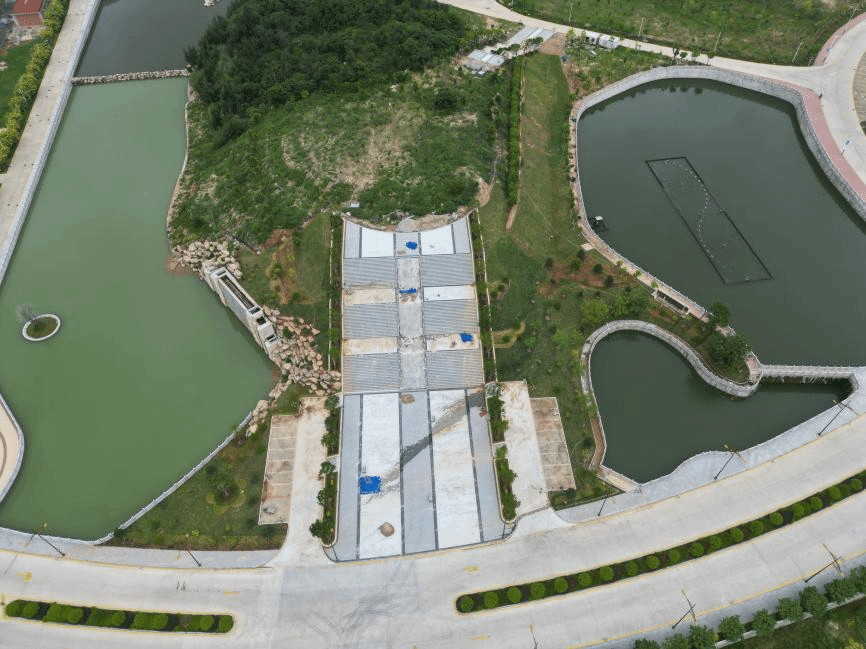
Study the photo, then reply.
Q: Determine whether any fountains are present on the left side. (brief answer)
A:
No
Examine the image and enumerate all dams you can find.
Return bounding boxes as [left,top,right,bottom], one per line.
[69,69,189,84]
